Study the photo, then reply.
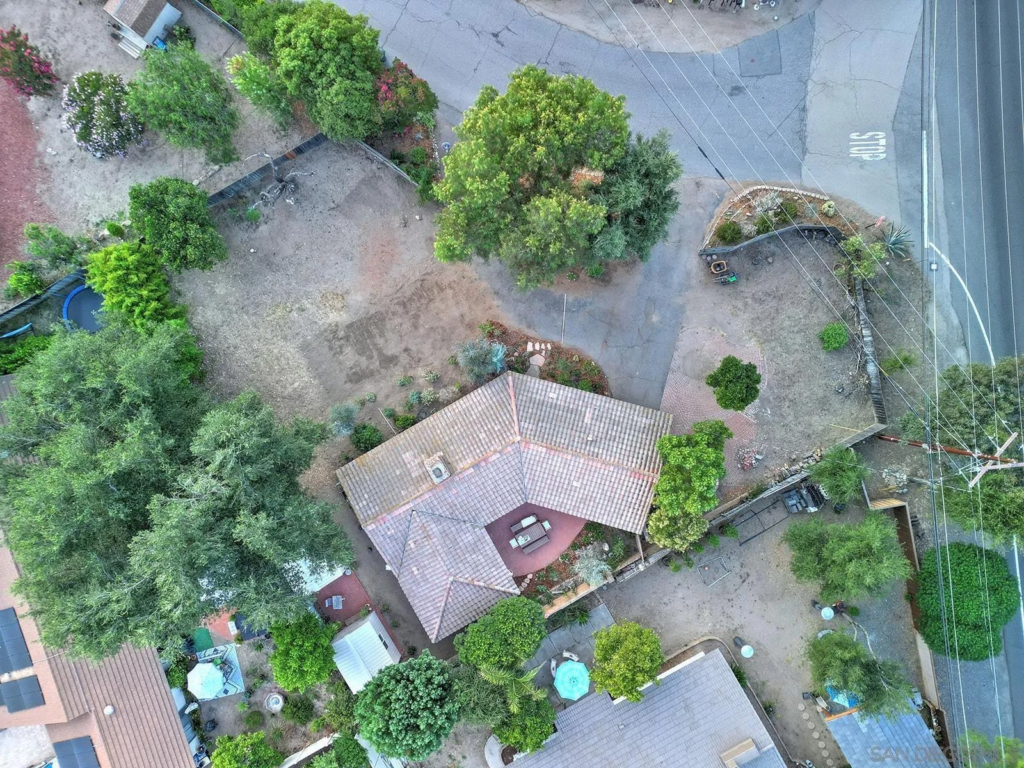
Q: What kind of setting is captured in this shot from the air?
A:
residential area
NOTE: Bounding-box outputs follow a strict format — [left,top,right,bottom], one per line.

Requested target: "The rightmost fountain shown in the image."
[263,693,284,714]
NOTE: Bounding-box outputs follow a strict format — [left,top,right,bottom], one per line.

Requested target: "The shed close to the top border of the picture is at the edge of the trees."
[103,0,189,59]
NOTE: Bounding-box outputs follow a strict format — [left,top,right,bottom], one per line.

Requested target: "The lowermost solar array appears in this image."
[54,735,100,768]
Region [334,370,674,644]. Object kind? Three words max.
house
